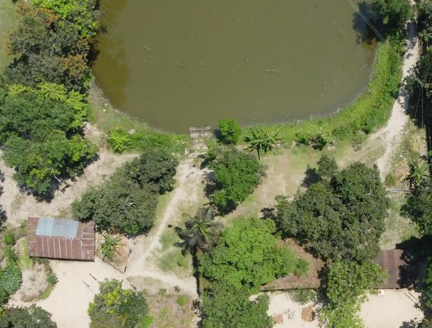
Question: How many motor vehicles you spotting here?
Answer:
0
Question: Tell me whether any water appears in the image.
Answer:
Yes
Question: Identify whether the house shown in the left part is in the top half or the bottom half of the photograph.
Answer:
bottom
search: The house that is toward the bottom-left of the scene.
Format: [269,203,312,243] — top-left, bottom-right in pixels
[29,218,97,260]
